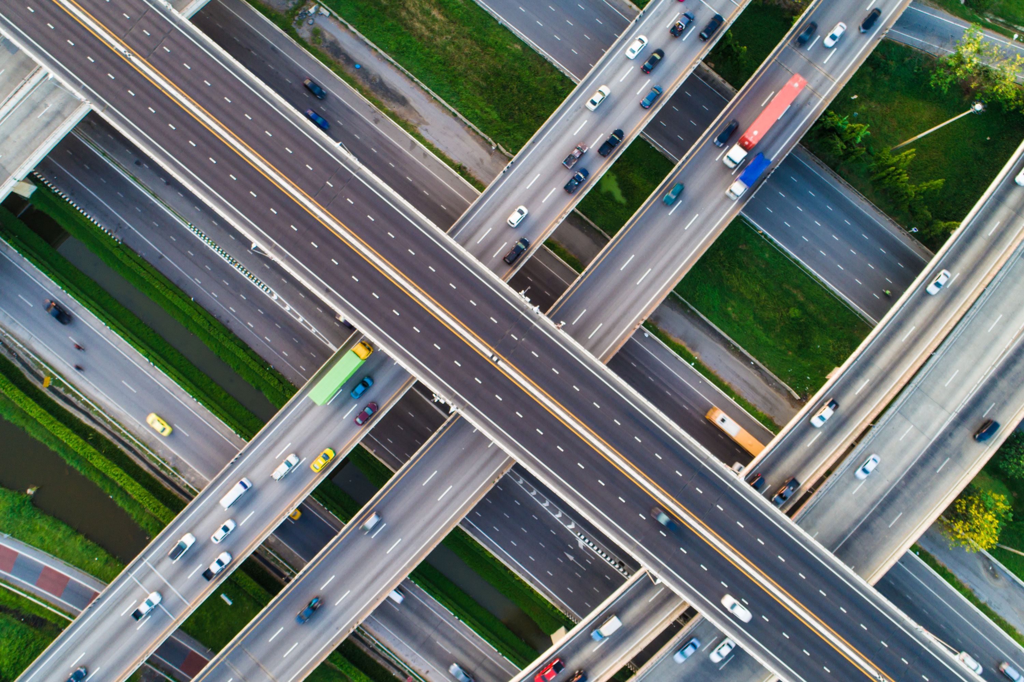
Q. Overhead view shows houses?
No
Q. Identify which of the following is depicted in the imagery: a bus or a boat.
bus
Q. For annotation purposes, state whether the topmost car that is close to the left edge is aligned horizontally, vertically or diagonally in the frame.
diagonally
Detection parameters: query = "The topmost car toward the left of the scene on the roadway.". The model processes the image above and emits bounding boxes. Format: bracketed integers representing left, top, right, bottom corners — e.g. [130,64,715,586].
[299,75,329,102]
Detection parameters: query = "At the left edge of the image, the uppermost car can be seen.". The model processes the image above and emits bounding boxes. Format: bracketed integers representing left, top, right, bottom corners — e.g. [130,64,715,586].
[42,299,74,326]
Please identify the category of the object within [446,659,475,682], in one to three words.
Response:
car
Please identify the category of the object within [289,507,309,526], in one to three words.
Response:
car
